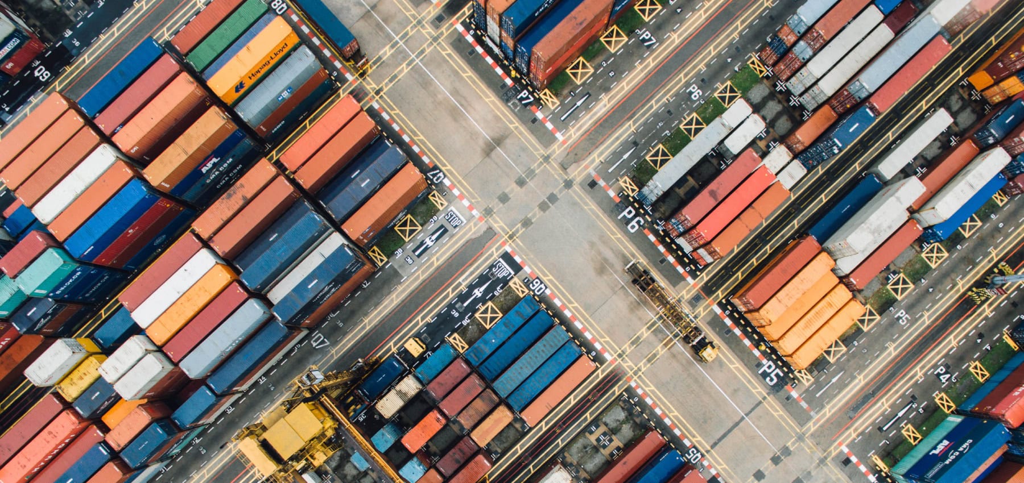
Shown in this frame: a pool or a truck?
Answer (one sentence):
Visible in the photo is a truck.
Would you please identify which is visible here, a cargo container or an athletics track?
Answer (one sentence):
Visible in the photo is a cargo container.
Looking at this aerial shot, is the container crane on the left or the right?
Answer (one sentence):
It is on the left.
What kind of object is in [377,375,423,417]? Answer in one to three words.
shipping container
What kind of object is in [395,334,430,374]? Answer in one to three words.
truck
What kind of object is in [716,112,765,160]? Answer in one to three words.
shipping container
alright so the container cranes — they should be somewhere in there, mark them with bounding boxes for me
[220,356,406,483]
